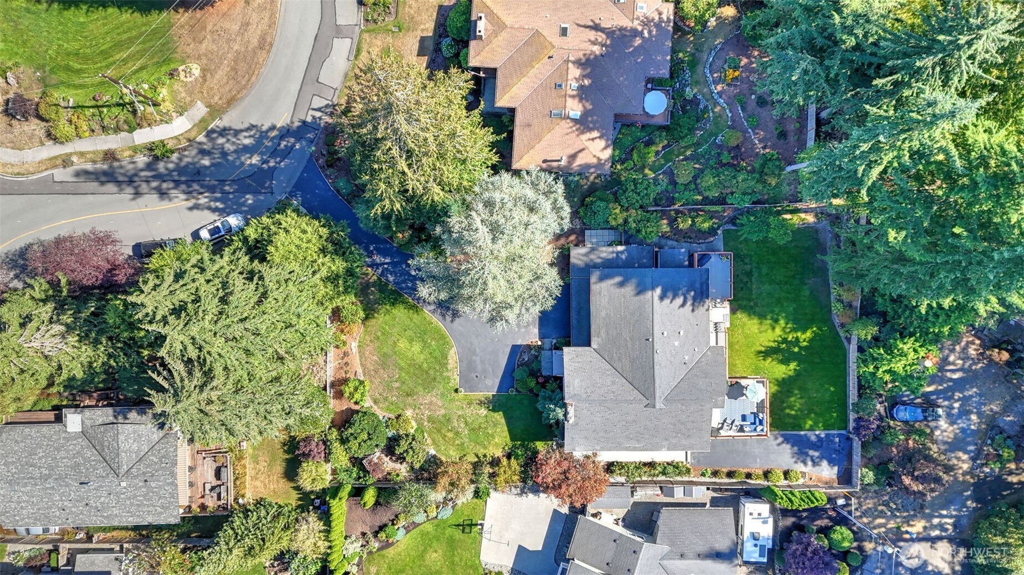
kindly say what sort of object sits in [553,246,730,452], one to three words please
house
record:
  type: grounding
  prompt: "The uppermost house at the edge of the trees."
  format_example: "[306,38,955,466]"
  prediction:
[468,0,673,174]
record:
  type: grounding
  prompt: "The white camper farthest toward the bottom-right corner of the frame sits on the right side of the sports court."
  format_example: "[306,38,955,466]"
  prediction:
[736,487,773,561]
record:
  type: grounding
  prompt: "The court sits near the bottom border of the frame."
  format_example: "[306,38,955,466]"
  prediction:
[481,492,568,575]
